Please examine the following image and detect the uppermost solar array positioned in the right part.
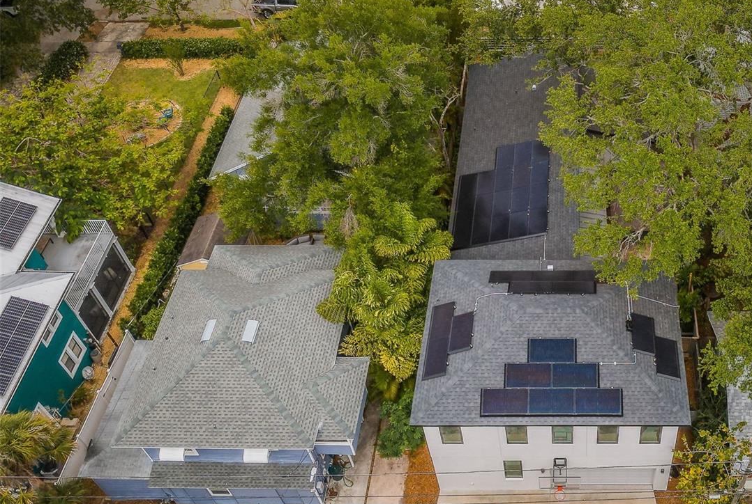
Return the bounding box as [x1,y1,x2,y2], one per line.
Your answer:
[452,131,549,259]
